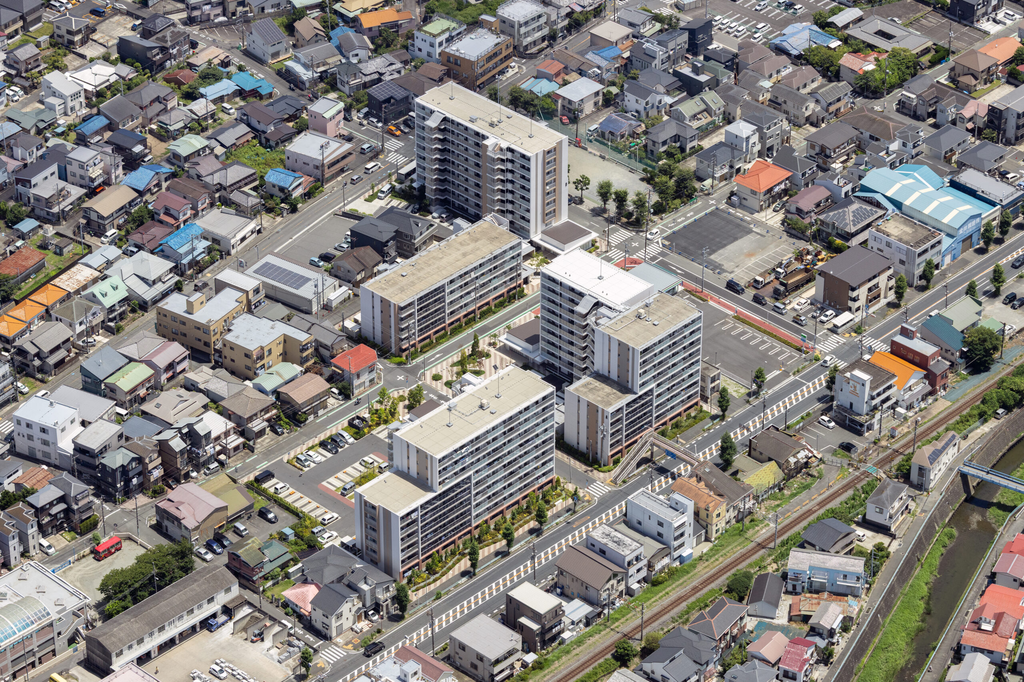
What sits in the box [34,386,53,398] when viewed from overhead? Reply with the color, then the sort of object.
white vehicle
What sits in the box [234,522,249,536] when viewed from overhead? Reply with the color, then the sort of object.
gray vehicle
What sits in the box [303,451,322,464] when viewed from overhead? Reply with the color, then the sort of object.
white vehicle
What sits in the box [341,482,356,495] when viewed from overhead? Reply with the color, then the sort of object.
gray vehicle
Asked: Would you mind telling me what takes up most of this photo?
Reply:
buildings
